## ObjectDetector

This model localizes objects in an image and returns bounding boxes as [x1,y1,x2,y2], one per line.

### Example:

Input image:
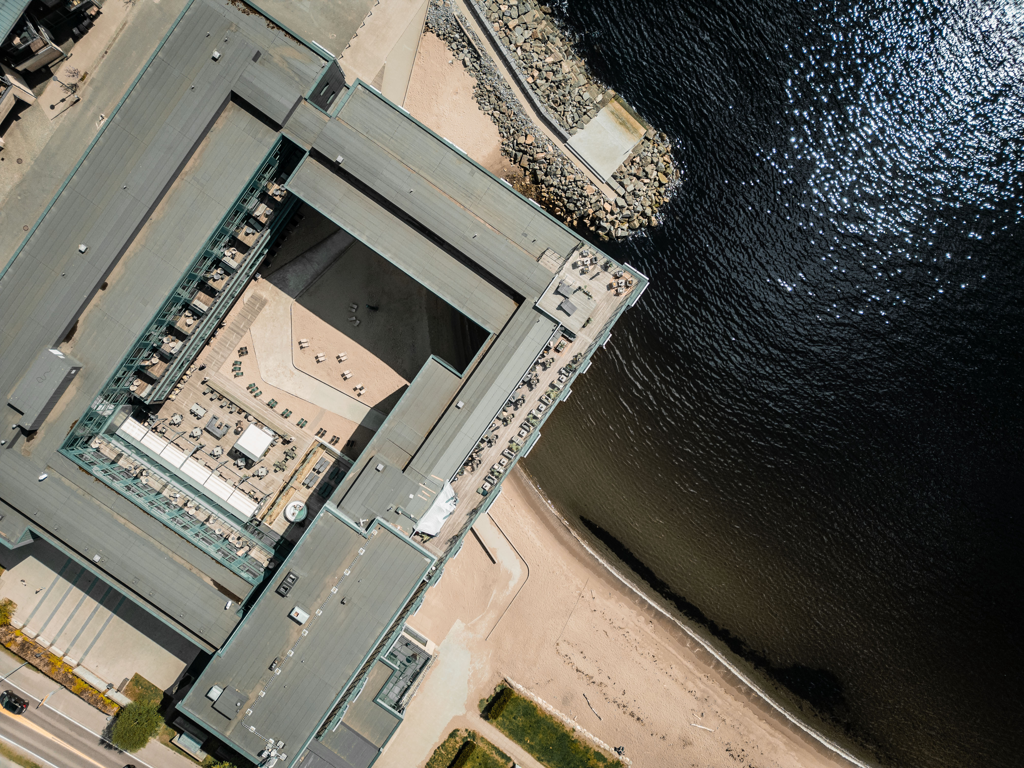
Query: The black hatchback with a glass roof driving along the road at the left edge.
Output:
[0,688,31,715]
